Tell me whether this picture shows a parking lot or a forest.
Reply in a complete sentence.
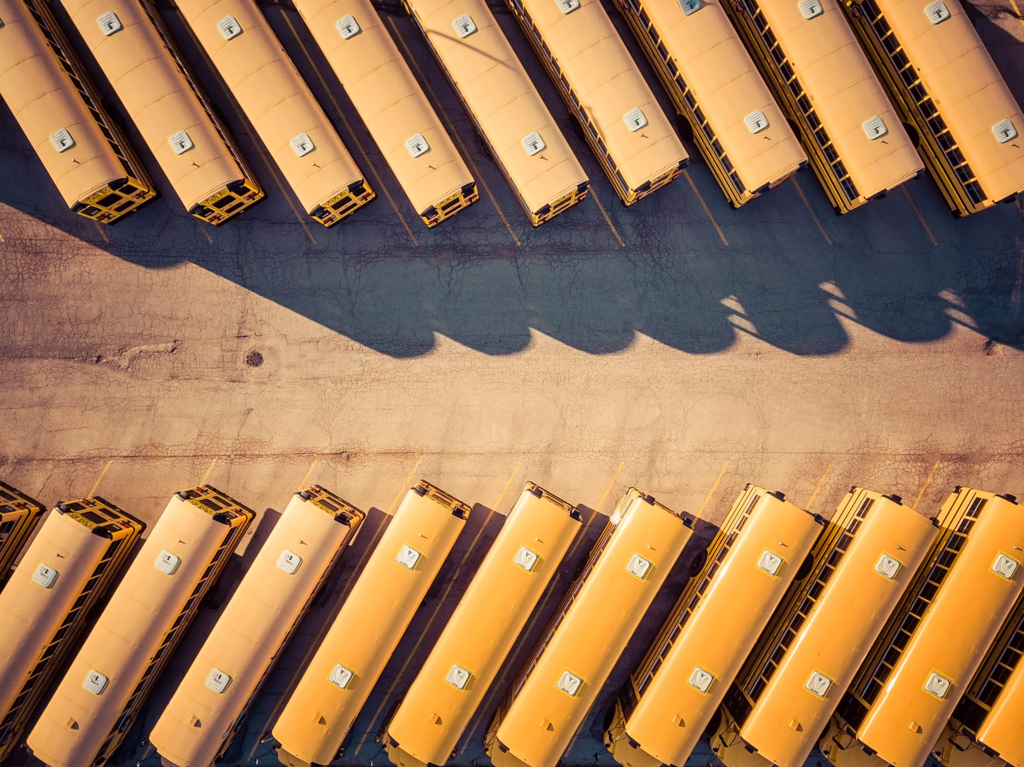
This image shows a parking lot.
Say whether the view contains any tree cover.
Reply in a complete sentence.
No, no tree cover is visible.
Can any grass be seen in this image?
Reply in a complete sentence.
No, there is no grass in the image.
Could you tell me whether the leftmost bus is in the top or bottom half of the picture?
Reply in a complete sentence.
Seen from above, the leftmost bus lies in the bottom half of the view.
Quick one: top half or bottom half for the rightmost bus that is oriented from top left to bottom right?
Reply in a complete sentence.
The rightmost bus that is oriented from top left to bottom right is in the top half of the image.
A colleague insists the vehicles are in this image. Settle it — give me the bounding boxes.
[596,479,824,767]
[833,0,1024,221]
[178,0,379,233]
[925,580,1024,767]
[260,475,474,767]
[291,0,482,234]
[396,0,593,233]
[613,0,810,213]
[144,479,368,767]
[719,0,926,219]
[0,491,151,767]
[0,0,164,230]
[701,483,939,767]
[811,483,1024,767]
[29,480,259,767]
[504,0,692,211]
[370,476,586,767]
[474,483,696,767]
[0,476,51,590]
[61,0,270,231]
